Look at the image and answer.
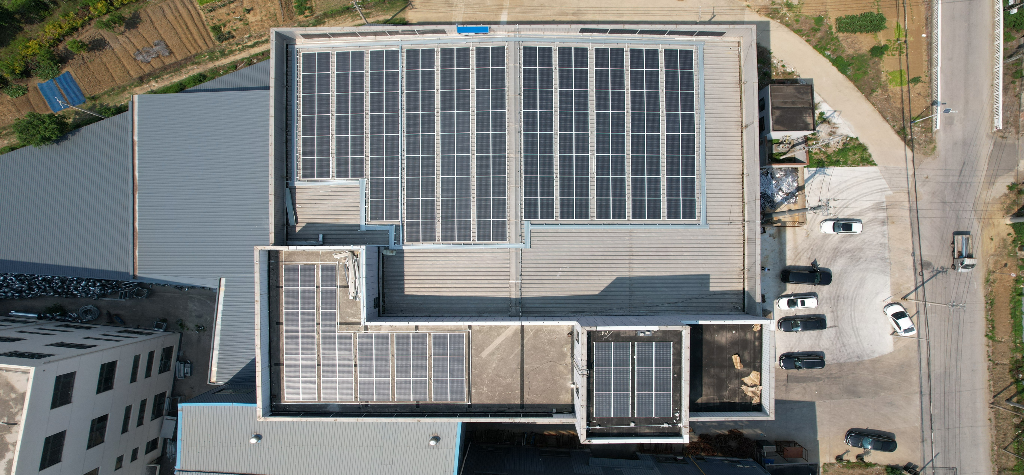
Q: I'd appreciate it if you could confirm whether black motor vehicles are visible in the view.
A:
Yes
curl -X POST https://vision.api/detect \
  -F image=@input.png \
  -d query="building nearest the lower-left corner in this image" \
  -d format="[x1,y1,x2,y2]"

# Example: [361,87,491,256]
[0,323,181,475]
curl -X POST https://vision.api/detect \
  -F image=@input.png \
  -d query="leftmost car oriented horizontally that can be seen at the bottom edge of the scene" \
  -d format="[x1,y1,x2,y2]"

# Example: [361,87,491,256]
[844,432,896,453]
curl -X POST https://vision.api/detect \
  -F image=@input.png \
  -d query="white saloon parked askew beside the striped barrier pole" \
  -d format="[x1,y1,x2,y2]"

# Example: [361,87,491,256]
[882,303,918,338]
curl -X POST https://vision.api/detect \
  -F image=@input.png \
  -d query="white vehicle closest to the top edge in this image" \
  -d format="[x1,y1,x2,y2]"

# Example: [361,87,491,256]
[817,219,863,235]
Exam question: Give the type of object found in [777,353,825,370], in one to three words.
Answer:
car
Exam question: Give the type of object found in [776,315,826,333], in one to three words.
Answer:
car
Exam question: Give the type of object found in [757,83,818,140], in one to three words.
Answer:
house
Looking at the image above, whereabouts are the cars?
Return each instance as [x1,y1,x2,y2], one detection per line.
[817,219,863,235]
[775,295,819,311]
[777,353,825,370]
[882,303,918,338]
[776,315,826,333]
[844,432,896,453]
[780,260,832,284]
